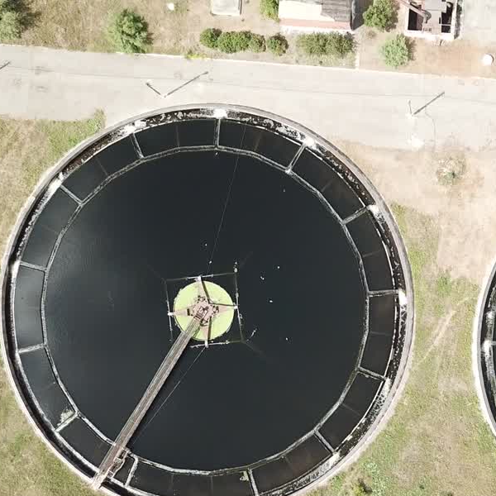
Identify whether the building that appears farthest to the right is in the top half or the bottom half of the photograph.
top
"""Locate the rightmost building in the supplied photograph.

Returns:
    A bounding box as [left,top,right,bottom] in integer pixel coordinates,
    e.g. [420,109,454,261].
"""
[401,0,467,48]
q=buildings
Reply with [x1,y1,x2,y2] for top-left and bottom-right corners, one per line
[211,0,243,20]
[401,0,467,48]
[275,0,366,35]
